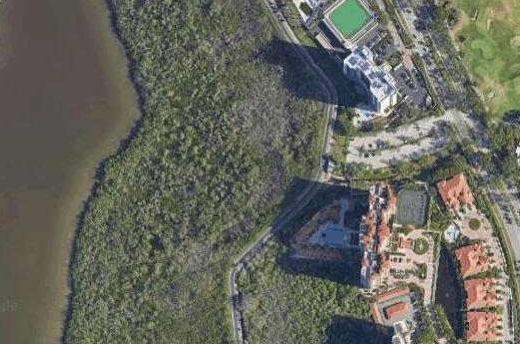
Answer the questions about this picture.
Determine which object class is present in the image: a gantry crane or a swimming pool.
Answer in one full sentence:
I can see a swimming pool in this picture.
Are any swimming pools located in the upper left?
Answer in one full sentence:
No, there's no swimming pool to be seen in the upper left.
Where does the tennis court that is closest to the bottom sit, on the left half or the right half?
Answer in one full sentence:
The tennis court that is closest to the bottom sits on the right side.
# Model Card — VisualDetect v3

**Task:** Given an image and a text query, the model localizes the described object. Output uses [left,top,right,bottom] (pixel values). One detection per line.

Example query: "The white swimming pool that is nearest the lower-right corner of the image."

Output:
[444,223,459,242]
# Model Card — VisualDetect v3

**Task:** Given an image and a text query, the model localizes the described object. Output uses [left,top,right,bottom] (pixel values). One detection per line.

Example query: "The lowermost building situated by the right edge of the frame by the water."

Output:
[466,311,501,341]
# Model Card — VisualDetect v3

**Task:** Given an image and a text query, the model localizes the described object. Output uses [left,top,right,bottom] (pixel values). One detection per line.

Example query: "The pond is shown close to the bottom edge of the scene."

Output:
[435,245,466,339]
